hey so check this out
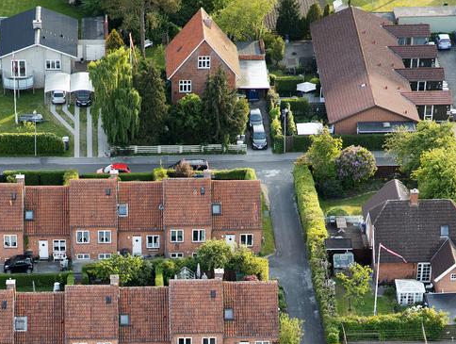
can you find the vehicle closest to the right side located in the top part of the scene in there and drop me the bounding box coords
[436,33,453,52]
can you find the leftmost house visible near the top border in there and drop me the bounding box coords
[0,2,75,95]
